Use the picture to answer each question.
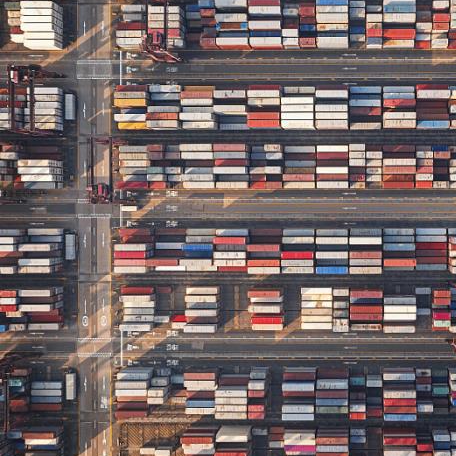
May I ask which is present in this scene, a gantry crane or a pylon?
gantry crane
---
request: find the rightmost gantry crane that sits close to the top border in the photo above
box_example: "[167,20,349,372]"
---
[139,0,188,62]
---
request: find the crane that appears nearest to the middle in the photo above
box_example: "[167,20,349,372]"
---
[84,134,137,204]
